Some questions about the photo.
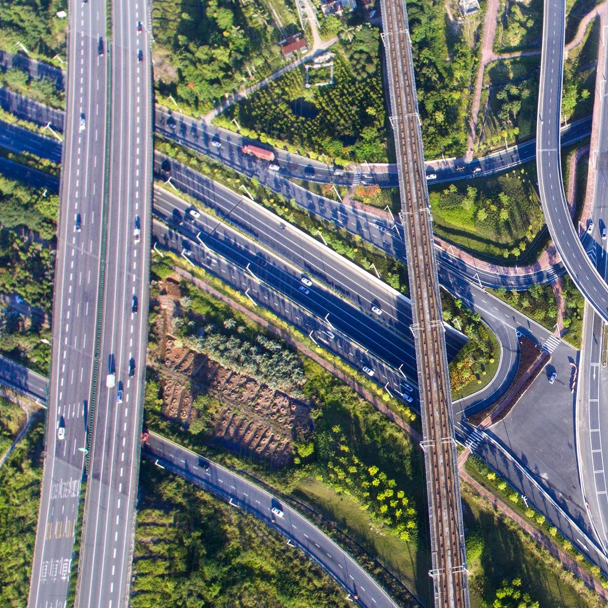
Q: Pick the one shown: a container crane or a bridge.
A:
bridge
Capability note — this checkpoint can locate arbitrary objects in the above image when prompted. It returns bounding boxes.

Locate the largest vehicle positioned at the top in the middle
[245,145,274,160]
